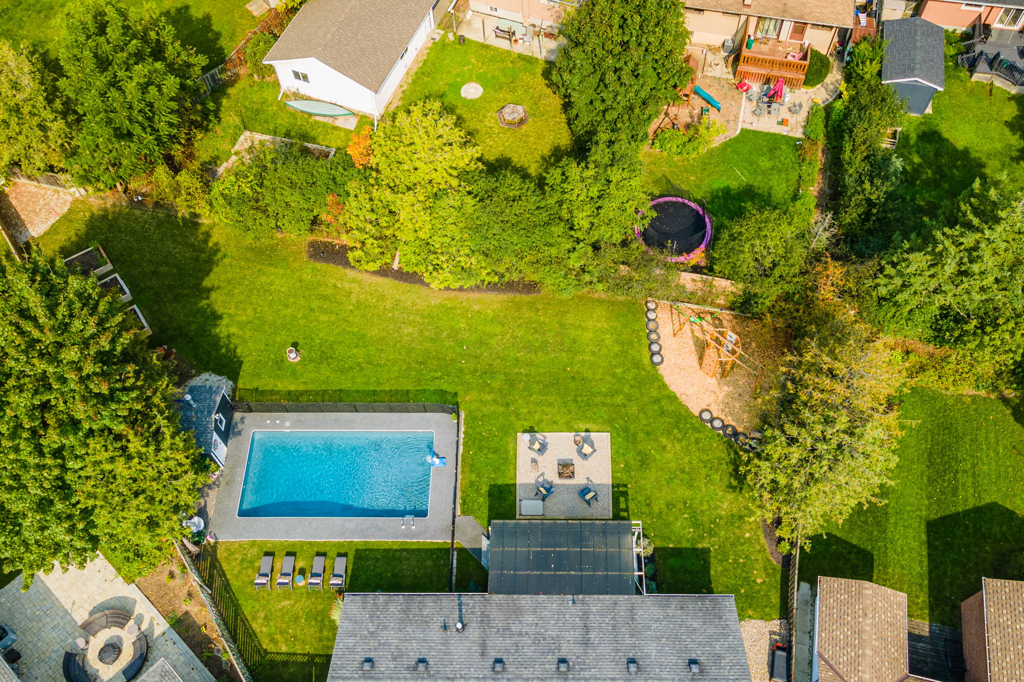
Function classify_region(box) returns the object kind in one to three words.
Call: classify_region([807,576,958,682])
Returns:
house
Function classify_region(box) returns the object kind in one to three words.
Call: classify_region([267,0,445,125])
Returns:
building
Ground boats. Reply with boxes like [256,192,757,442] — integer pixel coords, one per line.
[283,99,354,114]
